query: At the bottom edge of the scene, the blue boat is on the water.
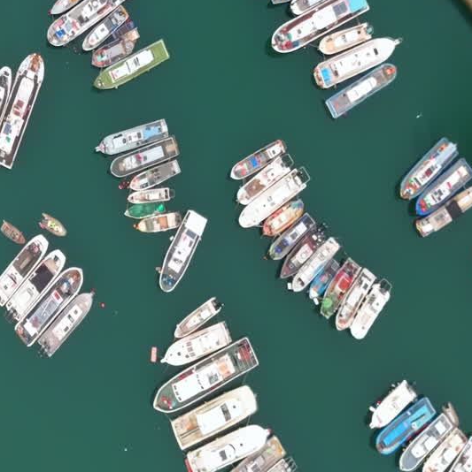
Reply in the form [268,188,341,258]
[376,398,438,455]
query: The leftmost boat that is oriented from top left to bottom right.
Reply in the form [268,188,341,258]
[1,221,25,243]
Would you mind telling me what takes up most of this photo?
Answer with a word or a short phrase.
water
